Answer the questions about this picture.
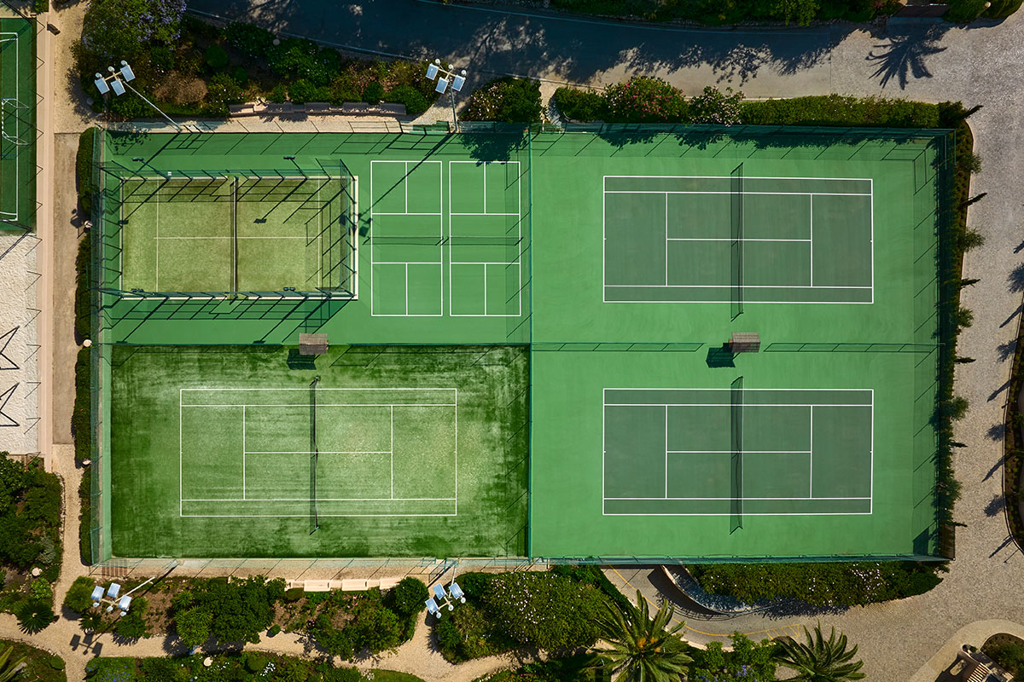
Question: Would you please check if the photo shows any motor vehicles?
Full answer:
No, I can see no motor vehicle in this picture.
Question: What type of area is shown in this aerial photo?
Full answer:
This looks like a sports ground.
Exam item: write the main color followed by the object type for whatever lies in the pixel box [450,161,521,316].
green sports court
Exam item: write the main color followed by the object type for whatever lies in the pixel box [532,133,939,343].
green tennis court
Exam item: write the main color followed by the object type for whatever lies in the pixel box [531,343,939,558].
green tennis court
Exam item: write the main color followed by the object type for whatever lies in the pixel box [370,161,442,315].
green sports court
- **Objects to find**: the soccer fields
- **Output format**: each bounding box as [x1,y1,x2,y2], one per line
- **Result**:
[0,17,36,232]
